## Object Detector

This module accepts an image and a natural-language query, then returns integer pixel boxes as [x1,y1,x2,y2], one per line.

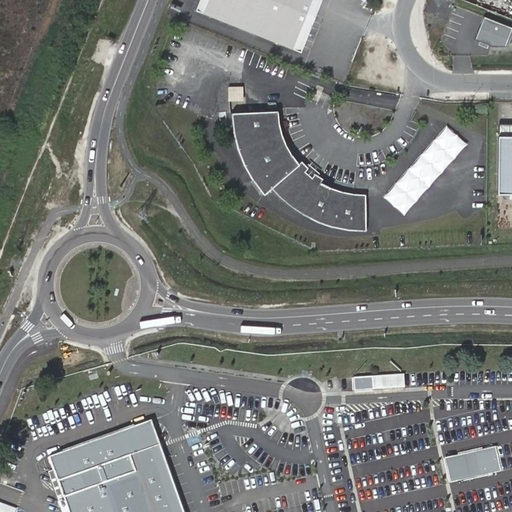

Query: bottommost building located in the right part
[445,445,502,482]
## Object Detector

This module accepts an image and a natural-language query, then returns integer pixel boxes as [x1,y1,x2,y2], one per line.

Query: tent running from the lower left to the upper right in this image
[384,126,468,216]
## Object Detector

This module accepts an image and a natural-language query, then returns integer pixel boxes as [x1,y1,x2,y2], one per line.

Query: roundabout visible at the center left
[38,215,164,346]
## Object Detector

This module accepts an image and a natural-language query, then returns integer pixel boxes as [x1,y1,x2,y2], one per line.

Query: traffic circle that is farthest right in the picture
[280,375,326,421]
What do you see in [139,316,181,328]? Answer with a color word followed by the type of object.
white vehicle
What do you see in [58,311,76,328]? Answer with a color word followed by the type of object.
white vehicle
